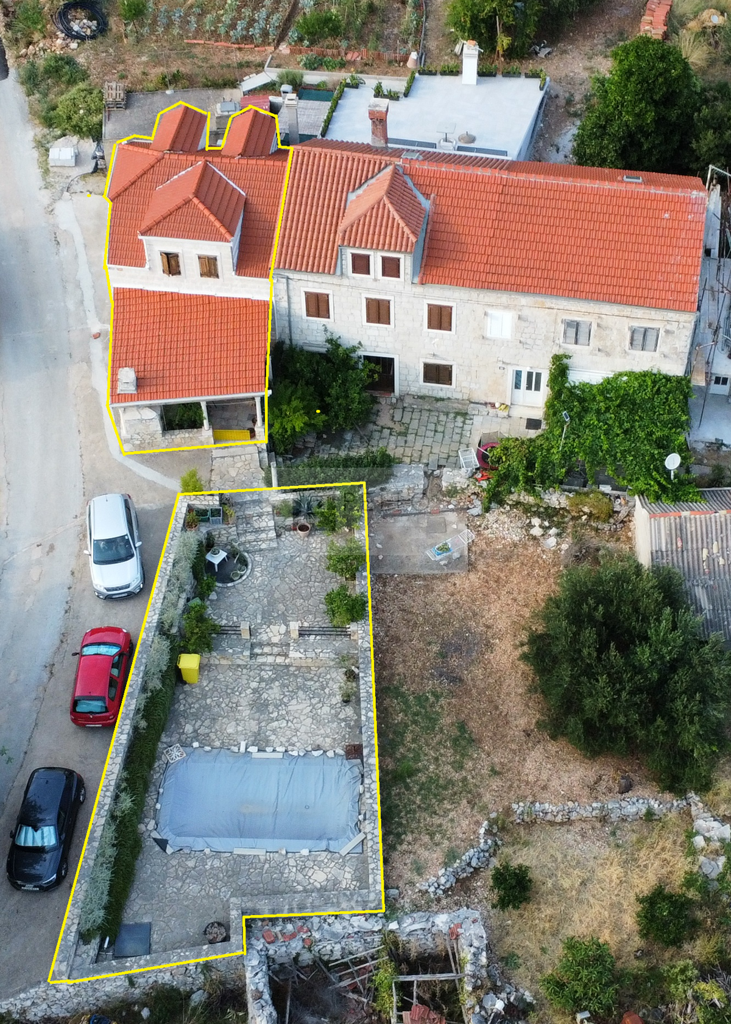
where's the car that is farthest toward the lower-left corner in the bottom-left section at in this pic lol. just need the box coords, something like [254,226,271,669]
[2,769,81,897]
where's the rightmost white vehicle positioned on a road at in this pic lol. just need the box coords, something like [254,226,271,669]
[84,497,146,604]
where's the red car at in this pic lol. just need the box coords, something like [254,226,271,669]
[69,631,129,732]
